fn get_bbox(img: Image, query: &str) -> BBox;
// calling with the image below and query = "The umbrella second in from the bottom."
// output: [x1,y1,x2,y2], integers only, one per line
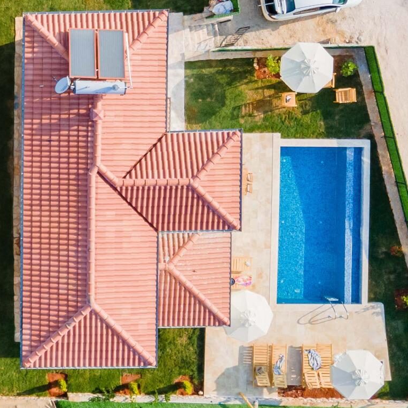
[231,292,273,340]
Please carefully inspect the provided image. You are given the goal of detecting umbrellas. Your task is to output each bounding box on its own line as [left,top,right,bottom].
[282,42,332,92]
[329,350,383,399]
[231,292,273,340]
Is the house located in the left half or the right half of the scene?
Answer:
left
